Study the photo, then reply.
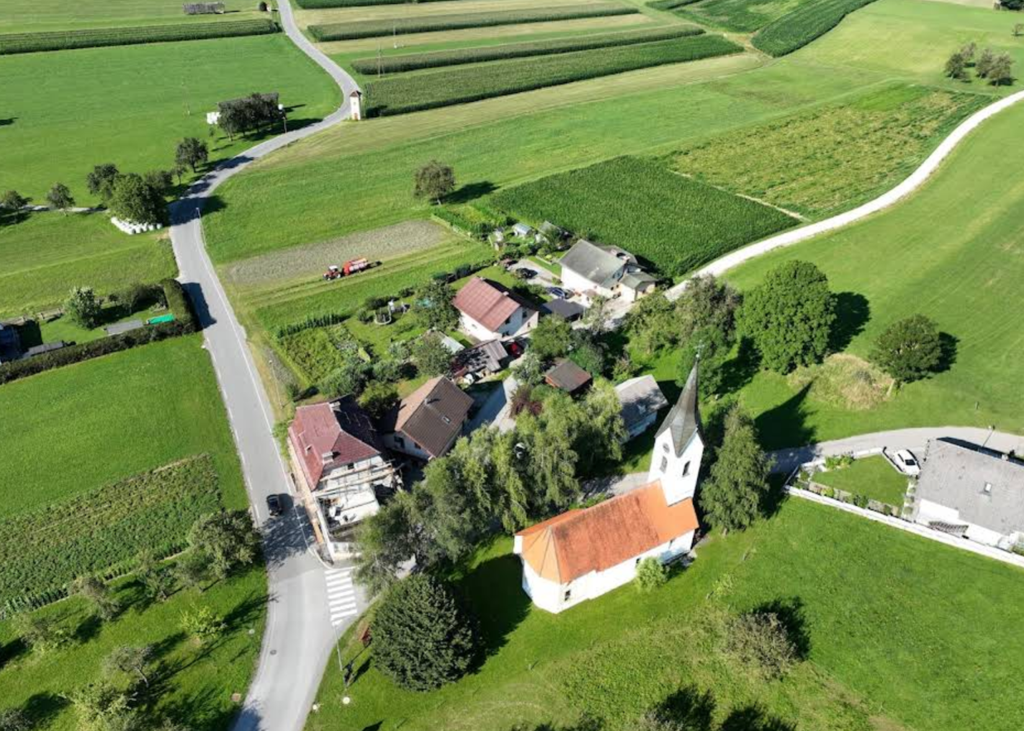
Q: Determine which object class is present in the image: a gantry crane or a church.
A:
church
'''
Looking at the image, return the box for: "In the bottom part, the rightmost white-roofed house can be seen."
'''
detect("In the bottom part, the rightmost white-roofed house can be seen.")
[917,423,1024,555]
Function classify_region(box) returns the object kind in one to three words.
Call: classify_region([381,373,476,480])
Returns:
house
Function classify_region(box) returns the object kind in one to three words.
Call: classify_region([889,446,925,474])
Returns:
car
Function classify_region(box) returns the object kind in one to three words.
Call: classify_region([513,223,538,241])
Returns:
greenhouse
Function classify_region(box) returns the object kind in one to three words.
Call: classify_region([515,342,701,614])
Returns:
church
